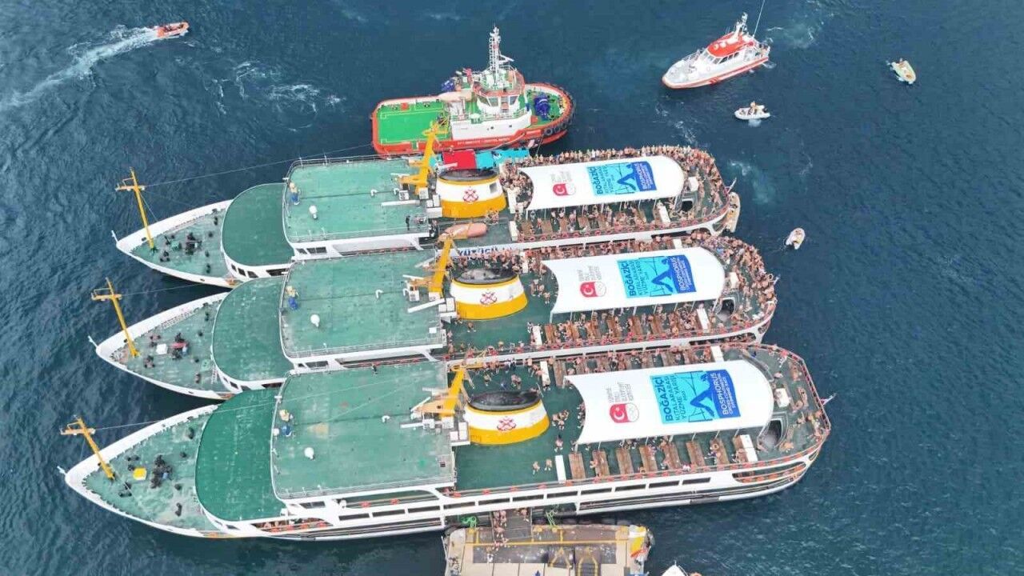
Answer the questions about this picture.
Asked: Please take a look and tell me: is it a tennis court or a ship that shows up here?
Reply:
ship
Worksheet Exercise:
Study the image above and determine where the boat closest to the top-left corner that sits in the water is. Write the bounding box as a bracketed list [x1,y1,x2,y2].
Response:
[152,24,190,39]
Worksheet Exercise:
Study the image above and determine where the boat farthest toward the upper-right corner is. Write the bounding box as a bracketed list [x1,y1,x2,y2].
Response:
[888,58,919,81]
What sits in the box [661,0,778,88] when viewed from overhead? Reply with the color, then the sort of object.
white boat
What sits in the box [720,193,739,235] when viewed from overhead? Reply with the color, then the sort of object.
white boat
